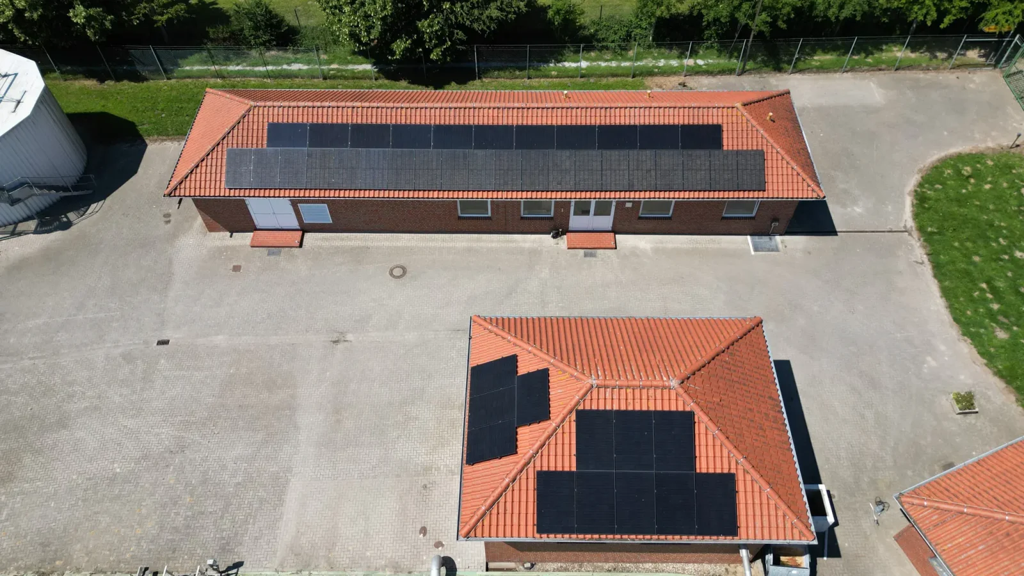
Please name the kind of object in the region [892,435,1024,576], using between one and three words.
building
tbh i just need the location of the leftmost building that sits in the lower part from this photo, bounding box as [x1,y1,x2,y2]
[454,312,823,563]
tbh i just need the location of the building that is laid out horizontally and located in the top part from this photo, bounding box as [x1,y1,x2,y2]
[160,87,830,235]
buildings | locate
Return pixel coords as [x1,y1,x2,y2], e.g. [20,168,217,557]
[454,312,823,563]
[160,87,830,235]
[892,435,1024,576]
